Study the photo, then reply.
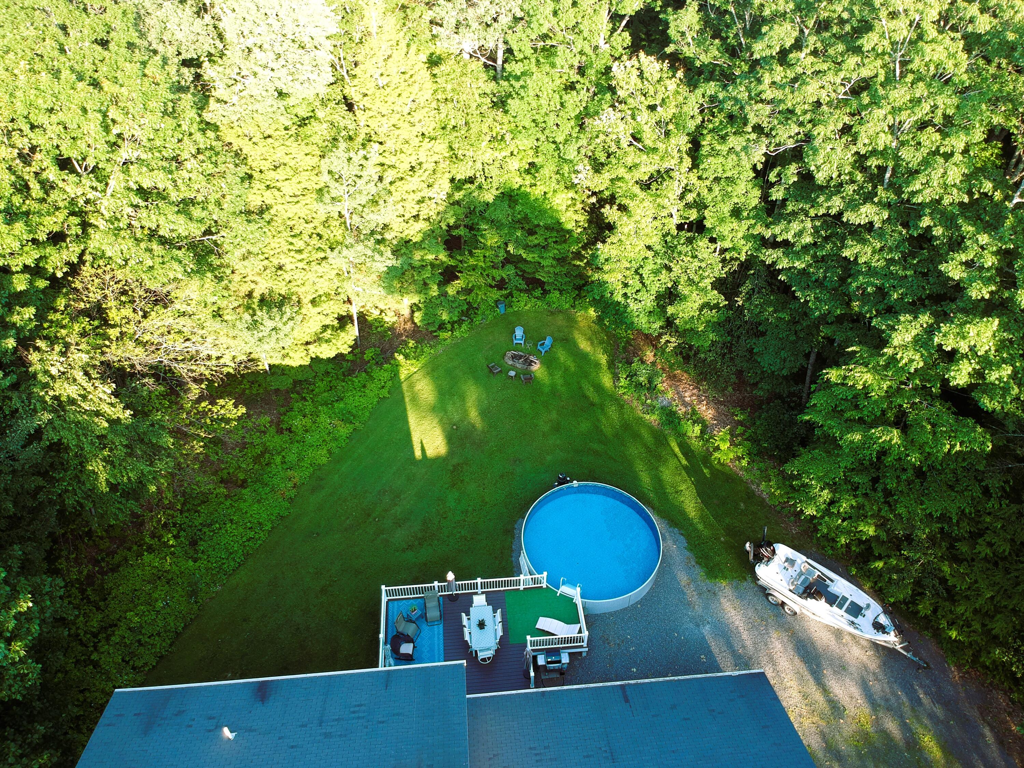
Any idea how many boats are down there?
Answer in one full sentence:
The picture shows just 1 boat.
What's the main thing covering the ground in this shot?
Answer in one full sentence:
For the most part, this view shows trees.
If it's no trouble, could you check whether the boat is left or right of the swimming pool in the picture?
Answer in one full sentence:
Compared with the swimming pool, the boat is located further to the right.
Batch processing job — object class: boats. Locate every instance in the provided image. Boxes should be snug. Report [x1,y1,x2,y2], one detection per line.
[741,525,903,642]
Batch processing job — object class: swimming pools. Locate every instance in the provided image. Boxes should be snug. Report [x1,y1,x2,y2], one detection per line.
[521,480,662,618]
